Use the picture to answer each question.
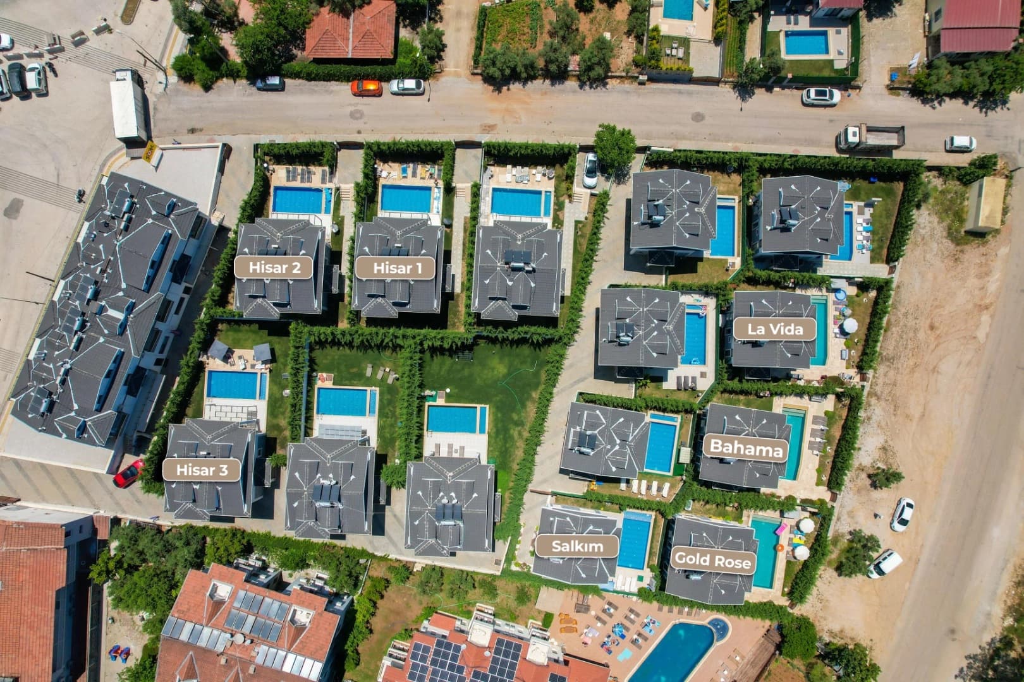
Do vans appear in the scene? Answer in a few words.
Yes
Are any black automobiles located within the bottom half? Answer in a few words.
No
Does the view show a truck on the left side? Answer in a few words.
Yes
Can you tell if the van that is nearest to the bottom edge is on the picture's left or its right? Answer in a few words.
right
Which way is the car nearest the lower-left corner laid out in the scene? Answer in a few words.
diagonally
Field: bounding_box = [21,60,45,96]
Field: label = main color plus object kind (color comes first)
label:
white car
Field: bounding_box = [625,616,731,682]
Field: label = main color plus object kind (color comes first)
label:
blue swimming pool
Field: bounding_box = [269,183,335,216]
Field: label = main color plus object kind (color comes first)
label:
blue swimming pool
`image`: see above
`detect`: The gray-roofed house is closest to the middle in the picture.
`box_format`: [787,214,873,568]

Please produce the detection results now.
[470,214,567,320]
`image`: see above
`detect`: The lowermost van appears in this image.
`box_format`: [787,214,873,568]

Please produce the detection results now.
[869,549,910,581]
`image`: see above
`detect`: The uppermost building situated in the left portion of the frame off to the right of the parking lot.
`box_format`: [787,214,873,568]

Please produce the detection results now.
[305,0,395,65]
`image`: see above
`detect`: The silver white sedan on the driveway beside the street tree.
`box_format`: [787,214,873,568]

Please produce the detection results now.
[582,151,600,188]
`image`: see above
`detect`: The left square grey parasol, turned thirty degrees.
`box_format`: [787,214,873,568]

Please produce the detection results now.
[206,338,240,363]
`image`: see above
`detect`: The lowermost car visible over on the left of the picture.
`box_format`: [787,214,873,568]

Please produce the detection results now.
[108,459,145,491]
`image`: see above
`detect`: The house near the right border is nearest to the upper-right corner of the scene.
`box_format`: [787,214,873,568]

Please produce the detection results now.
[919,0,1021,65]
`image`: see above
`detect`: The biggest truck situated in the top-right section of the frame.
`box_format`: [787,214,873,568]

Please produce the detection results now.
[835,122,906,149]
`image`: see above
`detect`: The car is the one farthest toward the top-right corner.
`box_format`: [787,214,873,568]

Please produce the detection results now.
[947,133,980,151]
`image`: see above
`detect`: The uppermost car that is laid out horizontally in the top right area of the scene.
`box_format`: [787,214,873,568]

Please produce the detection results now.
[803,84,843,104]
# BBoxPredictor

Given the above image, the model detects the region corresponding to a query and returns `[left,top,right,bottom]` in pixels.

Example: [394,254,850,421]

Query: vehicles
[253,71,282,89]
[835,122,906,149]
[71,186,82,203]
[947,133,980,151]
[43,60,55,76]
[1,59,26,98]
[110,67,151,146]
[891,498,918,535]
[350,79,382,96]
[0,30,15,50]
[803,84,843,104]
[869,549,910,581]
[582,151,600,188]
[388,77,424,94]
[108,459,145,491]
[21,60,45,96]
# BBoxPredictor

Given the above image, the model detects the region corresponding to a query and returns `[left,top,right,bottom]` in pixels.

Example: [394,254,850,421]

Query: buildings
[305,0,395,65]
[919,0,1021,65]
[749,172,845,273]
[625,168,717,270]
[283,423,391,539]
[661,510,760,608]
[381,601,611,682]
[809,0,863,20]
[691,403,792,492]
[964,177,1007,231]
[0,509,96,682]
[470,214,567,320]
[530,495,624,593]
[352,211,455,317]
[596,289,686,380]
[0,141,233,475]
[560,397,653,487]
[722,291,818,381]
[147,541,362,682]
[231,212,346,319]
[403,440,503,557]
